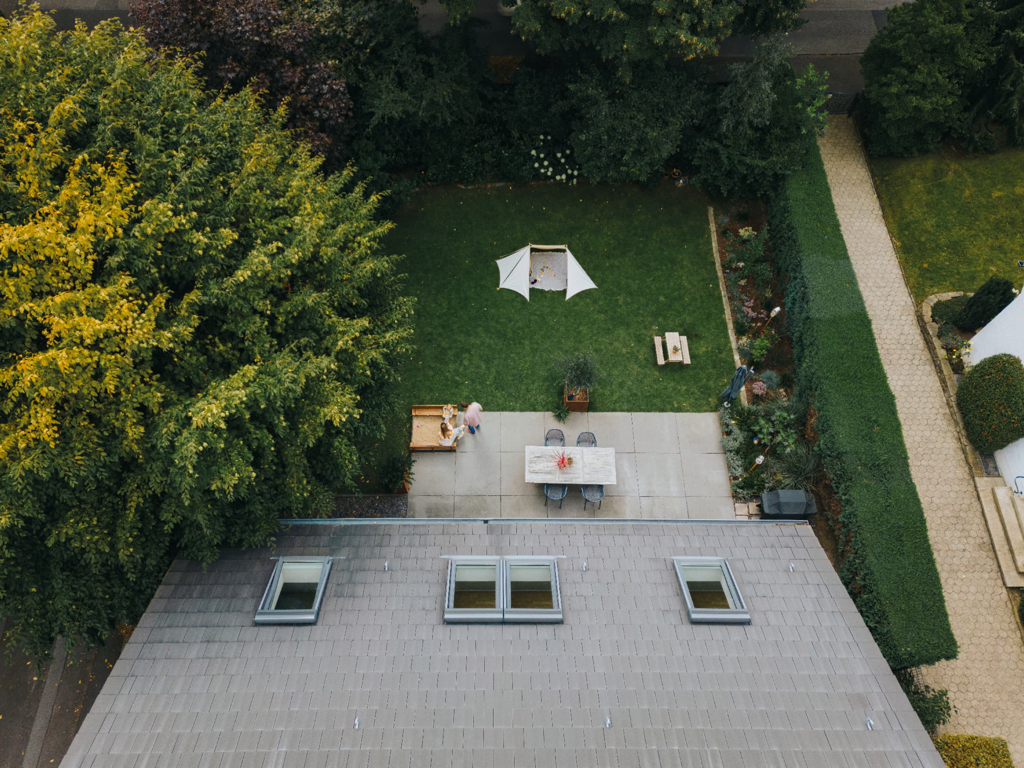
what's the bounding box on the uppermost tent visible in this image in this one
[496,242,597,302]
